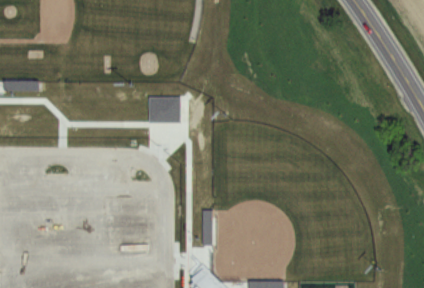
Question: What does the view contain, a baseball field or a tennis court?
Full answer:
Visible in the photo is a baseball field.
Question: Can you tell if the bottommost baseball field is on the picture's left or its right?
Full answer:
You can find the bottommost baseball field on the right side of the picture.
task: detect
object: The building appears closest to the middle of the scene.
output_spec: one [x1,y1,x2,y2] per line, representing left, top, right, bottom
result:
[149,96,181,122]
